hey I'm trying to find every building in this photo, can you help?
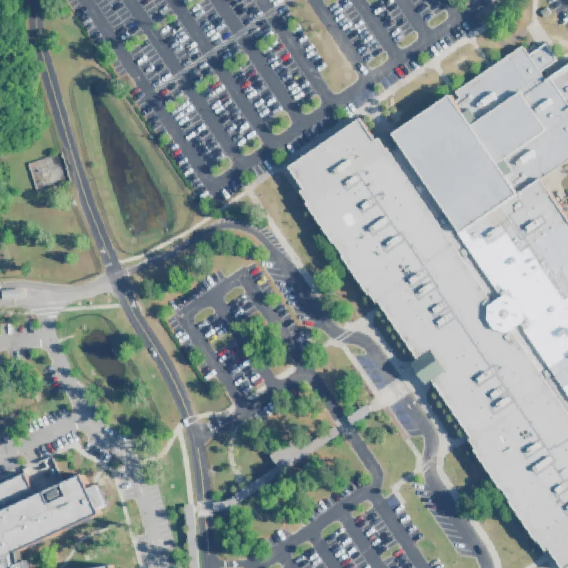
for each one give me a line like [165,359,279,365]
[28,156,69,190]
[0,470,116,568]
[289,44,568,568]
